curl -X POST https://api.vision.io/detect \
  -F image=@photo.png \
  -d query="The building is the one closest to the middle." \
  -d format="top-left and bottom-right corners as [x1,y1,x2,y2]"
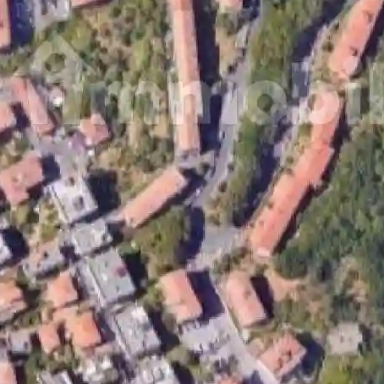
[122,167,188,227]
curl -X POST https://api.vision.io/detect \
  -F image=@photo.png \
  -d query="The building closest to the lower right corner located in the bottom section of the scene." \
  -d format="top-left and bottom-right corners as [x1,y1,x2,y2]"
[328,321,362,356]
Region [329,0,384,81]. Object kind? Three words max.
building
